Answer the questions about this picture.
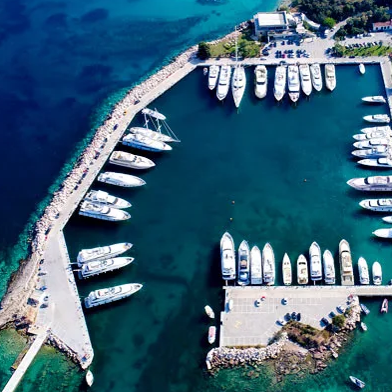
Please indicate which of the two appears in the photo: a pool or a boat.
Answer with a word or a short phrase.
boat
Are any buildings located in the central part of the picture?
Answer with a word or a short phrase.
No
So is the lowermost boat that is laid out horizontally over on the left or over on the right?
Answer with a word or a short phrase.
left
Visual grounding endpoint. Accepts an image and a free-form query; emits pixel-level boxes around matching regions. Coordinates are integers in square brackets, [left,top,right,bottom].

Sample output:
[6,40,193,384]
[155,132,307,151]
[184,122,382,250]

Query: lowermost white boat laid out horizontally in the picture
[77,283,142,309]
